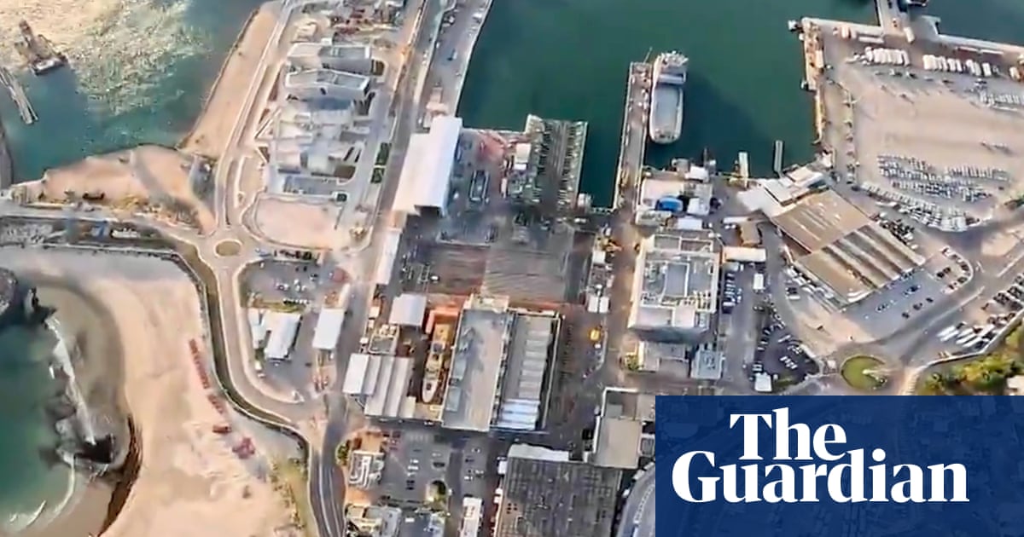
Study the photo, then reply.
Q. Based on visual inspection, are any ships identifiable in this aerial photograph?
Yes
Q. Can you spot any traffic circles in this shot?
Yes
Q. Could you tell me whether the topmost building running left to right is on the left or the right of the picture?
left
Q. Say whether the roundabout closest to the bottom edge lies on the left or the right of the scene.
right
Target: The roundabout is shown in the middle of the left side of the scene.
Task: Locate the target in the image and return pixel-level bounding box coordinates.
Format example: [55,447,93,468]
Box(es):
[196,226,258,270]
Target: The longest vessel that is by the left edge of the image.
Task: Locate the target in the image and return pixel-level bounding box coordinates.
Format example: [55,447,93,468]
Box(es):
[11,4,73,78]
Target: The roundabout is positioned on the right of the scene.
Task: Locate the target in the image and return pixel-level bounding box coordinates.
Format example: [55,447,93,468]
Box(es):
[828,346,901,401]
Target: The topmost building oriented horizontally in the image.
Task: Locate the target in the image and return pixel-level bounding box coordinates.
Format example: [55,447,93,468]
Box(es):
[287,42,370,69]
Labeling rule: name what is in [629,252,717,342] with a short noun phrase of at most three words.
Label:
building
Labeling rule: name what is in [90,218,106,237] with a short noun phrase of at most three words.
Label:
vehicle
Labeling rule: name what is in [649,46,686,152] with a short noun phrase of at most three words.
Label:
ship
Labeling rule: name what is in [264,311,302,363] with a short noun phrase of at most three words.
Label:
shed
